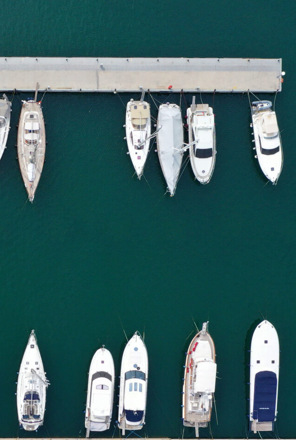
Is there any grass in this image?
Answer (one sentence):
No, there is no grass in the image.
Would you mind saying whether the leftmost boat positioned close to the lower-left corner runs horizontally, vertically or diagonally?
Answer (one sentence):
From this overhead view, the leftmost boat positioned close to the lower-left corner appears to run vertically.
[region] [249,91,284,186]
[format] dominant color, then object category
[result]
white boat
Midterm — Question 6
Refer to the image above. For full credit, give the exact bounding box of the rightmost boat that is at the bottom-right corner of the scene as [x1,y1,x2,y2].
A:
[245,313,279,439]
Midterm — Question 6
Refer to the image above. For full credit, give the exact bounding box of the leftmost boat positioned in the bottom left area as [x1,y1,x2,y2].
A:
[15,327,52,432]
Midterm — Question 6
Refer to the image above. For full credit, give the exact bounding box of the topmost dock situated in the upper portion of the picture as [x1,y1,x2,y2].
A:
[0,58,280,92]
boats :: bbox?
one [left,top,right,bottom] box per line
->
[84,346,116,439]
[15,327,52,432]
[245,313,279,439]
[15,83,49,207]
[112,326,149,440]
[180,321,217,439]
[252,98,273,110]
[149,91,199,197]
[183,91,219,186]
[0,92,14,159]
[249,91,284,186]
[117,91,163,181]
